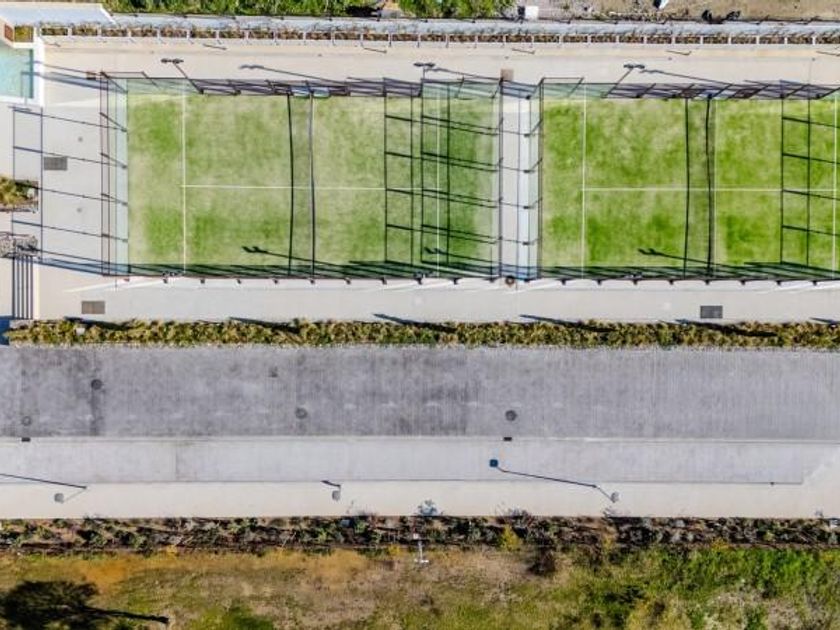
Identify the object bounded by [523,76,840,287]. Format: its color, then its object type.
green sports court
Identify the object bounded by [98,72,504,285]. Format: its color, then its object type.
green sports court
